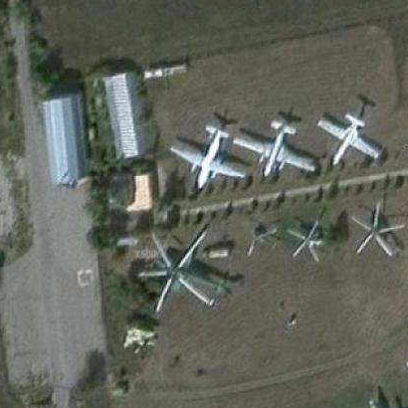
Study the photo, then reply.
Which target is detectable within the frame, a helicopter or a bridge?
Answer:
helicopter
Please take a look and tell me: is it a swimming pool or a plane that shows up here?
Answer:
plane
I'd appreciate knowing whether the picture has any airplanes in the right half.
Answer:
Yes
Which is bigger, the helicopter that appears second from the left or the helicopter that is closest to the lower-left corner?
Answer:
the helicopter that is closest to the lower-left corner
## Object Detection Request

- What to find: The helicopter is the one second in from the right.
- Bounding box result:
[290,220,334,263]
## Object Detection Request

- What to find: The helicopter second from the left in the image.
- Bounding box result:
[245,222,278,255]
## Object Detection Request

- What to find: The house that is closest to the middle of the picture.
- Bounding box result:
[127,174,158,216]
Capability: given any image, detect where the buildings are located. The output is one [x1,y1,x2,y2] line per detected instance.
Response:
[102,71,154,161]
[127,174,158,216]
[42,93,93,186]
